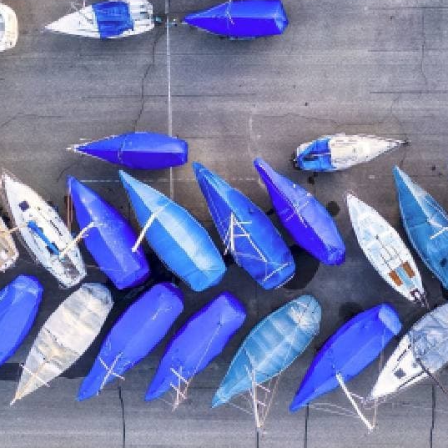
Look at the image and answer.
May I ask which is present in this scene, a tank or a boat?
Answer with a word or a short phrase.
boat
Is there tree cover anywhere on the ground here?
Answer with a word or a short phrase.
No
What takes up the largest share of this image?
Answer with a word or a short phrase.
paved ground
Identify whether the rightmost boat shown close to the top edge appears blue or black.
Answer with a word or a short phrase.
blue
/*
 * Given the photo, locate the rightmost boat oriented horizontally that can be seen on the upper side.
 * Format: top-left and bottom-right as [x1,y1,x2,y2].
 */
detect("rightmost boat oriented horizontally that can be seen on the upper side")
[289,131,407,171]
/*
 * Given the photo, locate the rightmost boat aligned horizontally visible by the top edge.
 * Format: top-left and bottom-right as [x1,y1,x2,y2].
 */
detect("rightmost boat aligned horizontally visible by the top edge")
[183,0,289,39]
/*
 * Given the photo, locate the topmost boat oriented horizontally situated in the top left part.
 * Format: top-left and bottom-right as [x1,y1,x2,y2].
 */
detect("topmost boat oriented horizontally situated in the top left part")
[45,1,163,43]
